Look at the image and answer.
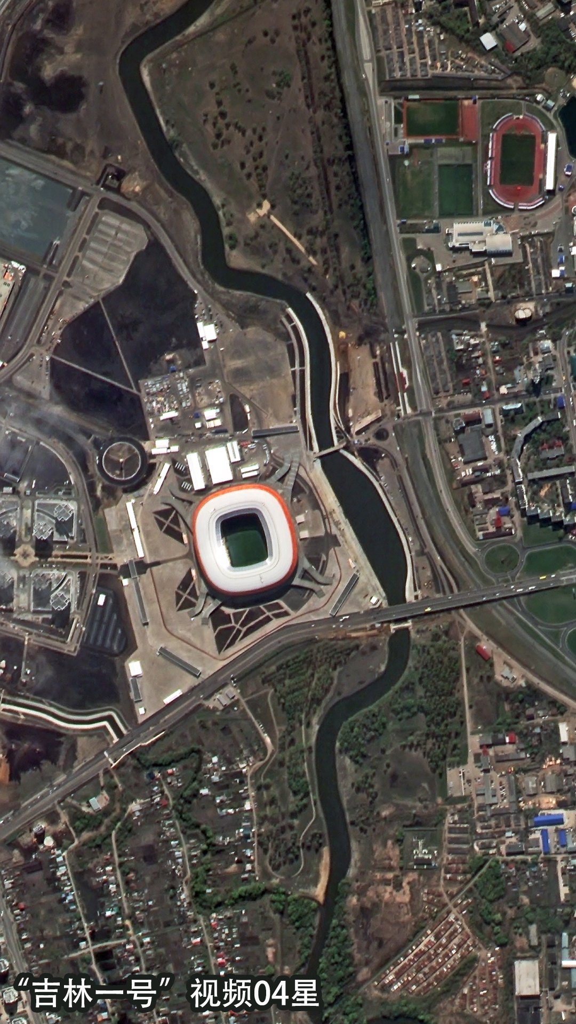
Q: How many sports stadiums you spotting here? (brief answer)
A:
2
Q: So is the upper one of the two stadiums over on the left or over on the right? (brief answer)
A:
right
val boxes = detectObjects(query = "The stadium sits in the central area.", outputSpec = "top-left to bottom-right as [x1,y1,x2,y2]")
[186,478,302,601]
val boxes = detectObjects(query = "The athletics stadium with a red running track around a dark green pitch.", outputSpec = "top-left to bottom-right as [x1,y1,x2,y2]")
[486,108,558,211]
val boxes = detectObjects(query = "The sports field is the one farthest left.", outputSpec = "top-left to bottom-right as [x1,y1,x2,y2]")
[221,512,264,566]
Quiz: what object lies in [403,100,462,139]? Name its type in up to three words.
soccer field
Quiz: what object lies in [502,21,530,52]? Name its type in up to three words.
building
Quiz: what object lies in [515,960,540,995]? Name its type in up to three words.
building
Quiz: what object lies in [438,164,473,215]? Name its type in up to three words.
soccer field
